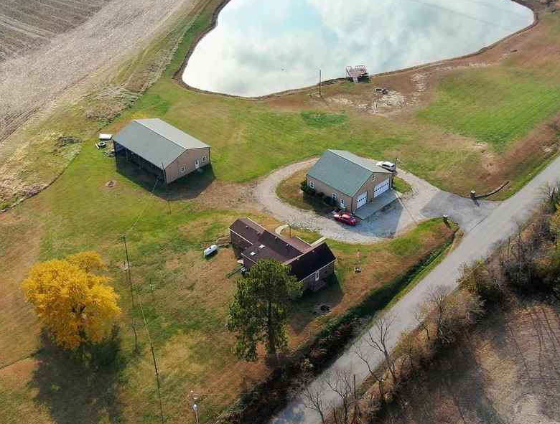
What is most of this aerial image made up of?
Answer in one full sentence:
The largest share of the image is taken up by grass.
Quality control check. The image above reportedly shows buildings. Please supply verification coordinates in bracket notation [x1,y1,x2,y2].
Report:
[111,120,212,184]
[227,217,337,291]
[305,151,395,211]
